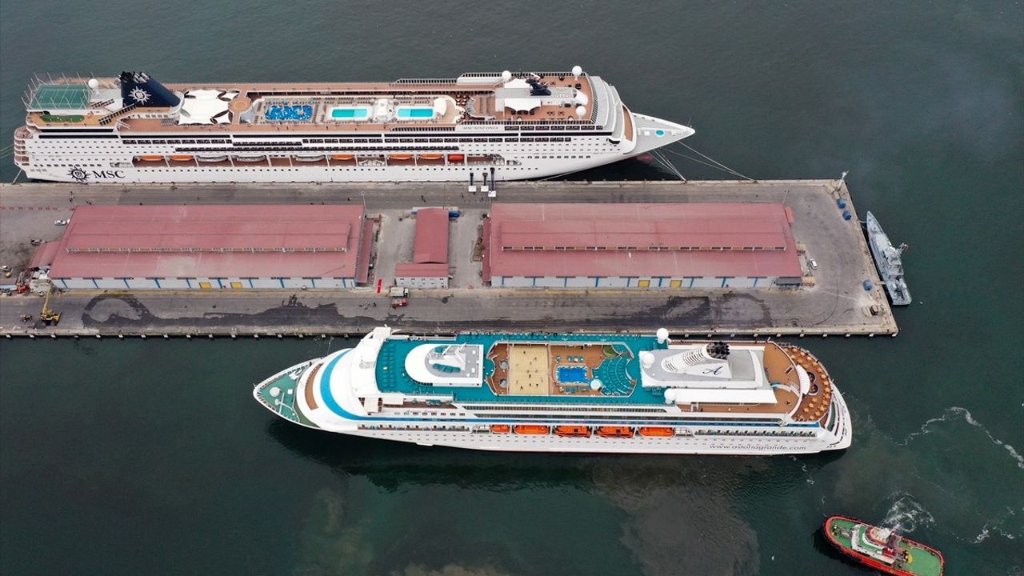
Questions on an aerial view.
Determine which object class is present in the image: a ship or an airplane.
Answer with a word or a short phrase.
ship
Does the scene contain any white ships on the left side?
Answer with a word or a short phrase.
Yes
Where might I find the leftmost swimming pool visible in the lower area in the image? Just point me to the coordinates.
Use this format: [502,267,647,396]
[555,365,591,386]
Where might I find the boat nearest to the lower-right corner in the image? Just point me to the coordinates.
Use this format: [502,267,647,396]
[822,518,941,576]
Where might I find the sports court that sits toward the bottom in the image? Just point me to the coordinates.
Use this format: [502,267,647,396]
[508,350,549,392]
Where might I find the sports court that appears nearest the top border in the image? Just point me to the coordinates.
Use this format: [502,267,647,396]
[20,72,101,111]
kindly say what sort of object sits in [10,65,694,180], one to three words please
ship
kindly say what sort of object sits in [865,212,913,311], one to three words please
boat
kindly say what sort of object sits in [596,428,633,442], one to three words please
boat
